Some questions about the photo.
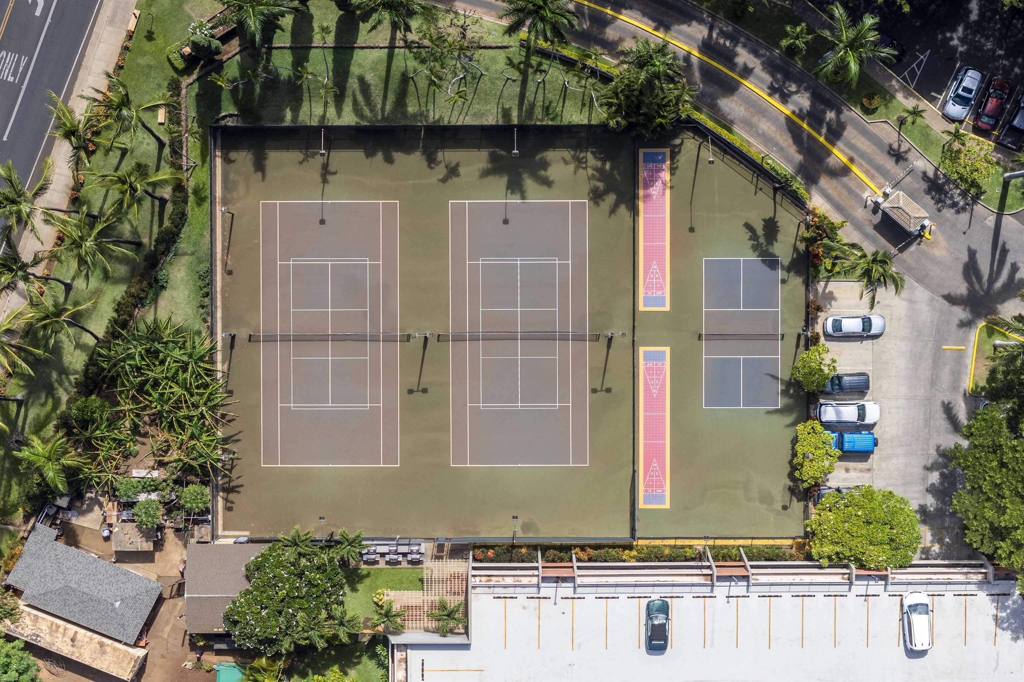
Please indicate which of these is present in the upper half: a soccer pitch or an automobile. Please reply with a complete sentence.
It is an automobile that can be seen in the upper half.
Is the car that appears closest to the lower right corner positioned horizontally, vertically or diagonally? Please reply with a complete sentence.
The car that appears closest to the lower right corner is oriented vertically.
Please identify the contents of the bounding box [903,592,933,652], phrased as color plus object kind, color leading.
white car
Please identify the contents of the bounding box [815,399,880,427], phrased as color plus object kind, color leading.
white car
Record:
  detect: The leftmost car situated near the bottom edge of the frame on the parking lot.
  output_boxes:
[644,599,672,651]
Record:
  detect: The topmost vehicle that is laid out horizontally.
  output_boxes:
[823,312,885,339]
